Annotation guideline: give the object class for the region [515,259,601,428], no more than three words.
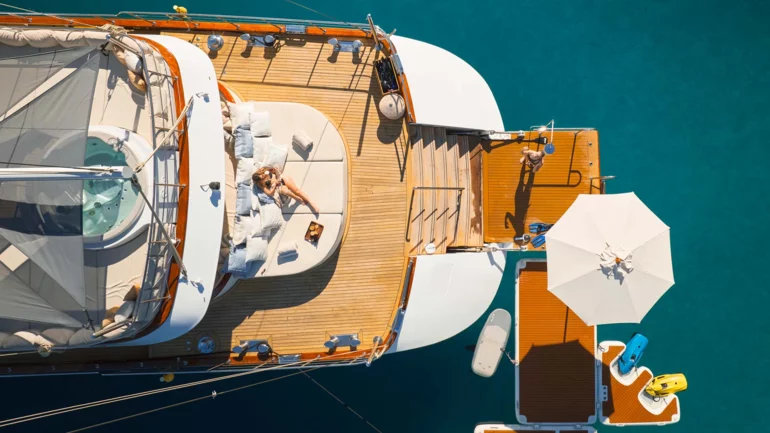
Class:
pier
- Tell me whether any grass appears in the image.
No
